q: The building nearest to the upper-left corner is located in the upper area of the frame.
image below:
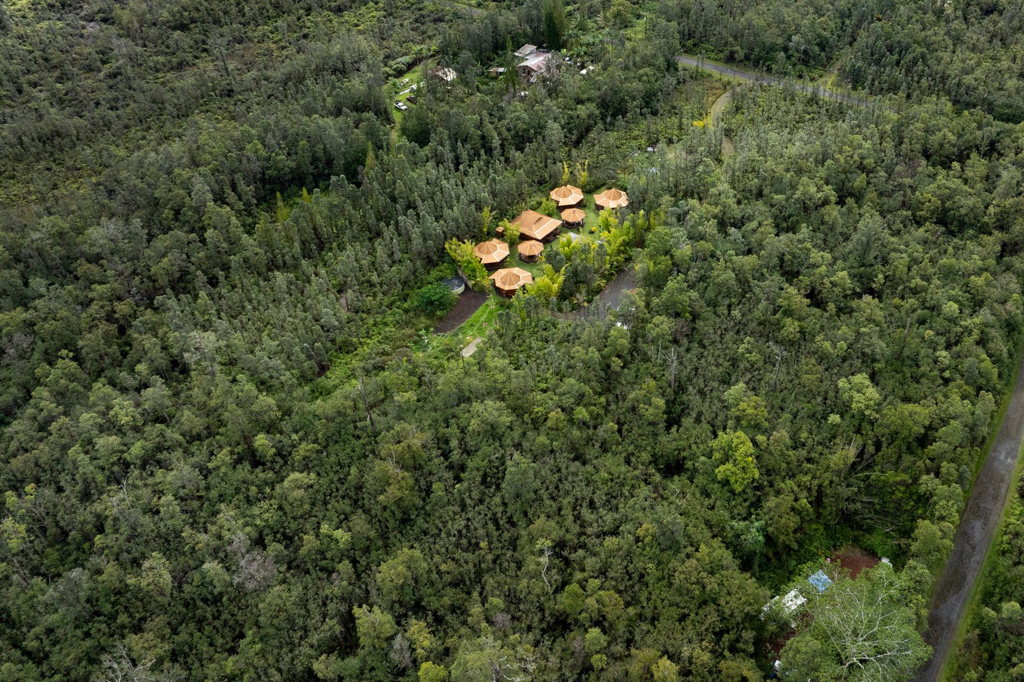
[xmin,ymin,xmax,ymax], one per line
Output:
[428,66,457,85]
